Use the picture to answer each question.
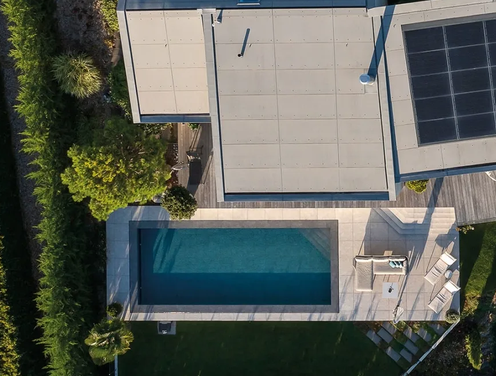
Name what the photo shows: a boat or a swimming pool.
swimming pool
